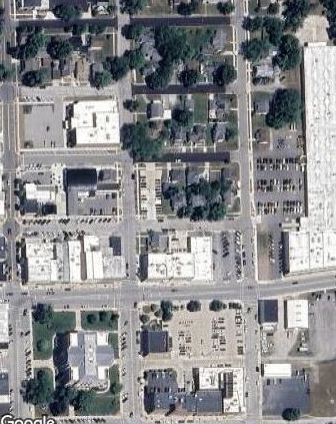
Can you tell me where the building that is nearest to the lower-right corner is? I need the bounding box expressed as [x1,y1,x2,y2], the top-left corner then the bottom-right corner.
[264,363,291,377]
